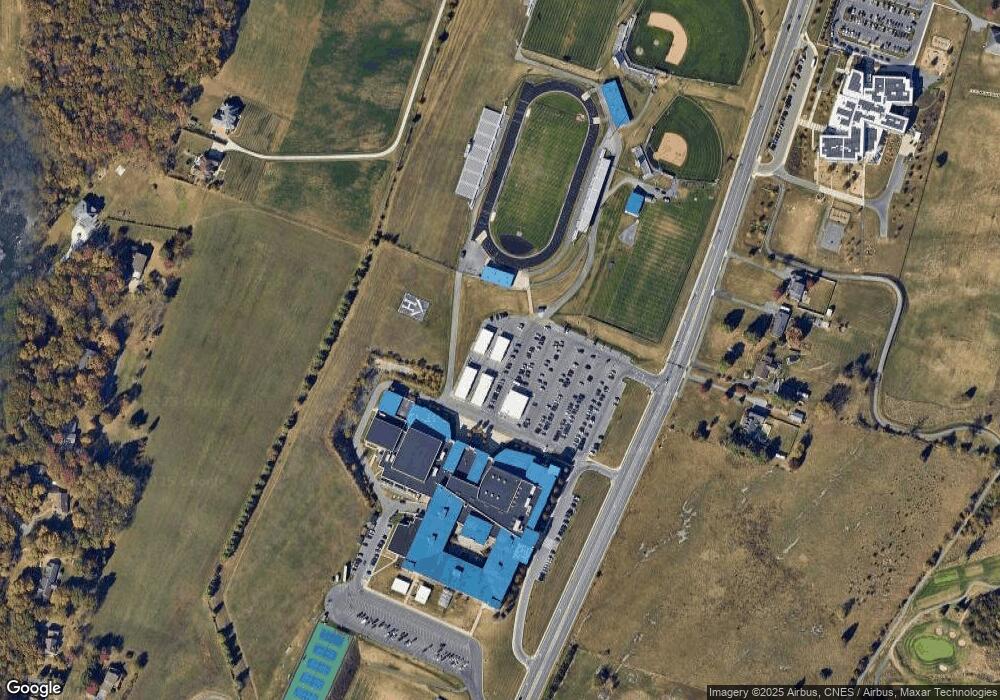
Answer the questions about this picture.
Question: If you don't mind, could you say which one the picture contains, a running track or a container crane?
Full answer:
Visible in the photo is a running track.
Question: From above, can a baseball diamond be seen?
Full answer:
Yes, a baseball diamond can be made out from above.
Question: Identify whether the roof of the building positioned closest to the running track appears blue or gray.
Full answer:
The roof of the building positioned closest to the running track is blue.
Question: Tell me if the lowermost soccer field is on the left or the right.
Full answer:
You can find the lowermost soccer field on the right side of the picture.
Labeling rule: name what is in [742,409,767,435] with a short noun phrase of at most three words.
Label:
house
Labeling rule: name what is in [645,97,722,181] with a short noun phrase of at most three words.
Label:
baseball field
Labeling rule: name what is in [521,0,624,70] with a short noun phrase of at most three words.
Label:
sports field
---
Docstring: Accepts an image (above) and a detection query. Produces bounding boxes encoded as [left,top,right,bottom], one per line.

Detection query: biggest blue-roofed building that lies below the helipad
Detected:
[366,391,561,609]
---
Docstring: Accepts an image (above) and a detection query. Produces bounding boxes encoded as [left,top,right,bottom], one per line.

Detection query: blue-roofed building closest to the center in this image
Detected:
[480,264,518,289]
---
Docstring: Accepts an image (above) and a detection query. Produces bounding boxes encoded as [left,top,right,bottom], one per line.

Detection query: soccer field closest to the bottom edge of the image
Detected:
[588,186,724,343]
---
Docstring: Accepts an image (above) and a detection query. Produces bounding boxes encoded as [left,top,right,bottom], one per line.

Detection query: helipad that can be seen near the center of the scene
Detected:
[398,293,429,320]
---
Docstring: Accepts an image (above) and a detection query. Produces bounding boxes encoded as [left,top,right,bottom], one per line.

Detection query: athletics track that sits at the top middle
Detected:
[474,74,600,268]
